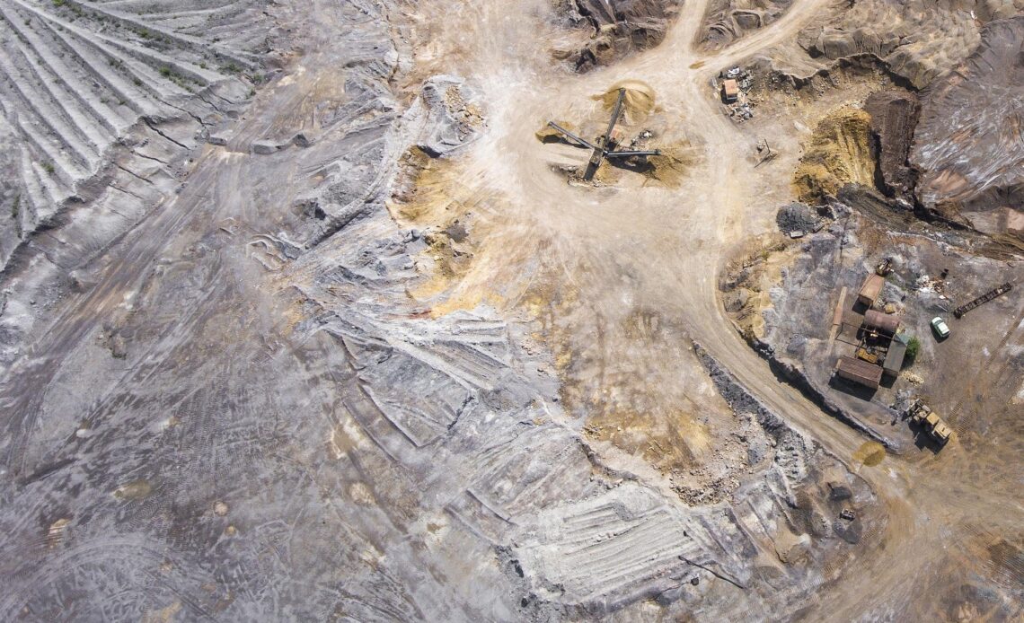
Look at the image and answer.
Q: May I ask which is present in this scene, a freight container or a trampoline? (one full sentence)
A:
Looking from above, you can make out a freight container.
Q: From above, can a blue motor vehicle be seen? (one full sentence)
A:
No, no blue motor vehicle is visible in the scene.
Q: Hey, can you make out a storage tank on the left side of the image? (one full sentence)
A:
No, there's no storage tank to be seen on the left side of the image.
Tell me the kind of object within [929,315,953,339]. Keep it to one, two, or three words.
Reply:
car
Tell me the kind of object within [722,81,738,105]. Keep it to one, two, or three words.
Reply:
building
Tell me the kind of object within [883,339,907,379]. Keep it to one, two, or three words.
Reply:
shed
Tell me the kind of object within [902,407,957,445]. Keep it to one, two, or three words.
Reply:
work vehicle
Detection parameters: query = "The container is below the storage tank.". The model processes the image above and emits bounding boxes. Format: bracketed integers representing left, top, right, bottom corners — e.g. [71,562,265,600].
[835,355,885,392]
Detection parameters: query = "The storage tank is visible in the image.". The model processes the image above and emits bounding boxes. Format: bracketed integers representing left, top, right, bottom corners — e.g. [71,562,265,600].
[862,309,901,339]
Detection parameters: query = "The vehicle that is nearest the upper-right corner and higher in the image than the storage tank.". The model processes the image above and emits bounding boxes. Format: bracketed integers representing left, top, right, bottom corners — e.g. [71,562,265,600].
[876,259,892,276]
